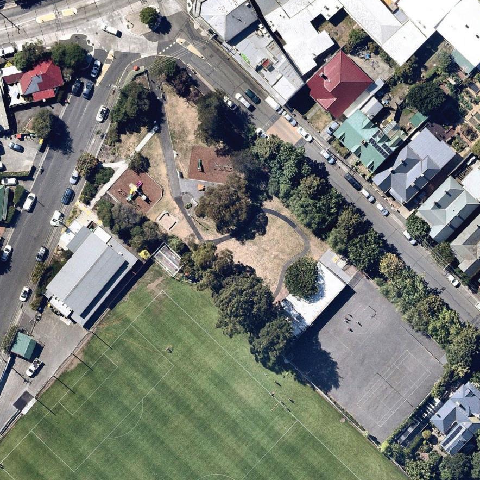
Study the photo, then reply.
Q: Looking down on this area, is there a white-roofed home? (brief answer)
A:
Yes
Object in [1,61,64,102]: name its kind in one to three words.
house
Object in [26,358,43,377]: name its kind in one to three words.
vehicle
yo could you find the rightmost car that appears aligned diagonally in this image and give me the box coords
[446,274,461,288]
